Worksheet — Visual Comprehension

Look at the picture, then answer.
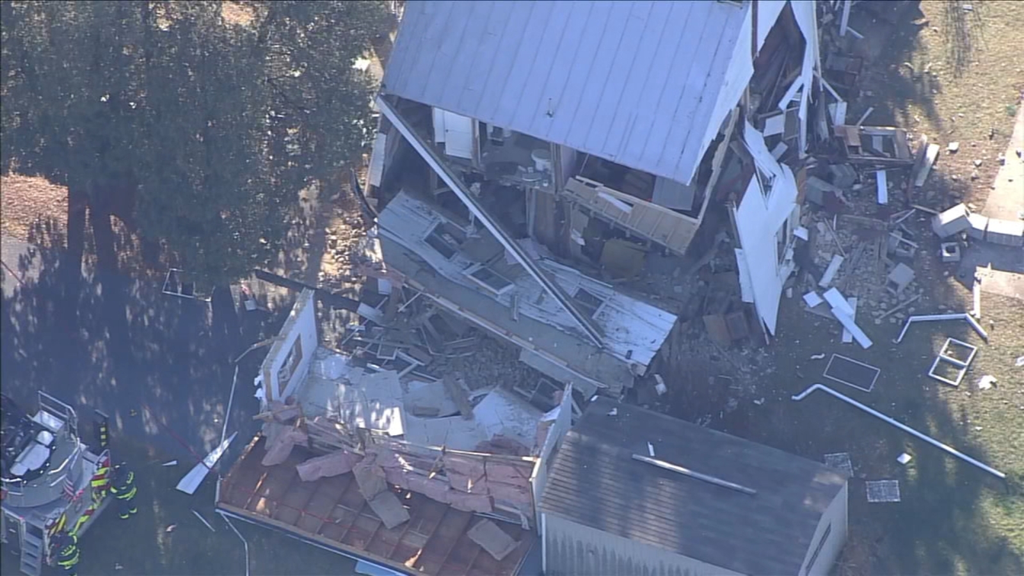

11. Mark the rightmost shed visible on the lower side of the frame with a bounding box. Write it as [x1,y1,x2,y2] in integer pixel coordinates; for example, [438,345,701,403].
[538,395,848,576]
